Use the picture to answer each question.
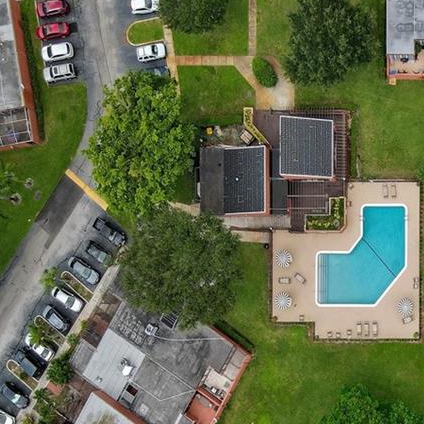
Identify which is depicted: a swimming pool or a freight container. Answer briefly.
swimming pool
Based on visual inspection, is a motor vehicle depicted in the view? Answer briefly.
Yes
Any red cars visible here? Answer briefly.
Yes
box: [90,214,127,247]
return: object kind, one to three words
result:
vehicle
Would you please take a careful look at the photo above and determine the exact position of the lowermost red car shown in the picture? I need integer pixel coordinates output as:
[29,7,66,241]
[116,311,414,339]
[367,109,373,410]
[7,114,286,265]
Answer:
[37,23,72,42]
